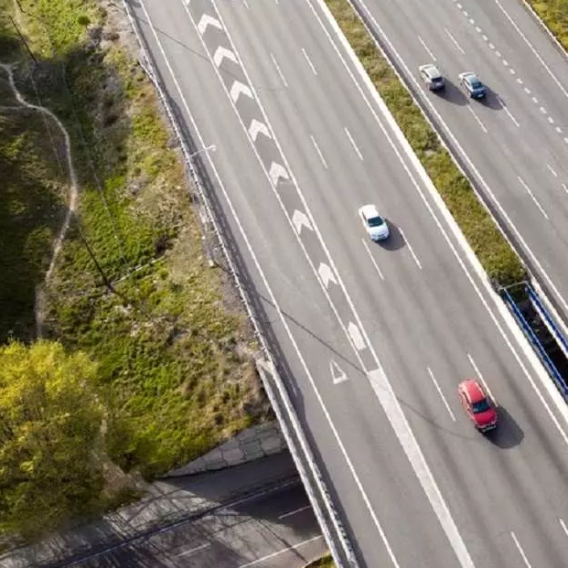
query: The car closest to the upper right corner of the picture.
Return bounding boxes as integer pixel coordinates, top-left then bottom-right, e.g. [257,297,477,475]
[459,74,487,101]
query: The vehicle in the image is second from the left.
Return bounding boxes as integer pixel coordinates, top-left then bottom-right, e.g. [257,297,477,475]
[419,65,446,93]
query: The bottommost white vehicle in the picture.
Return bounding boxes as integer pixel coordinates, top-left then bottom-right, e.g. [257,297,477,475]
[358,206,389,240]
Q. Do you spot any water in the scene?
No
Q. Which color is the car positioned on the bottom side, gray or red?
red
